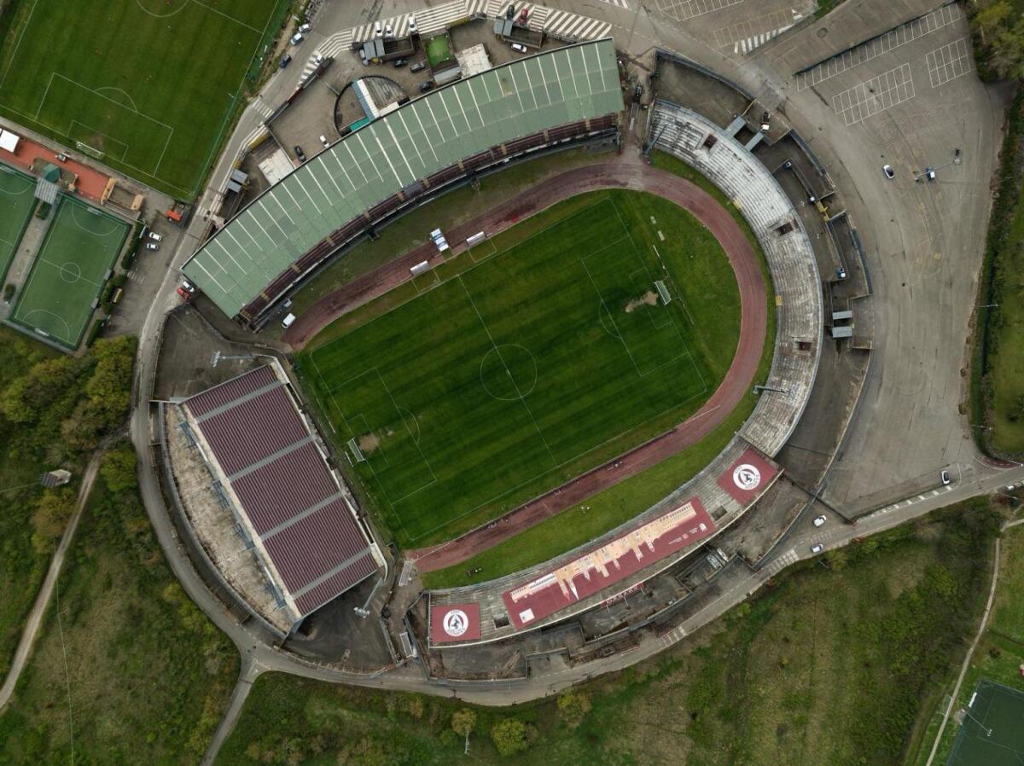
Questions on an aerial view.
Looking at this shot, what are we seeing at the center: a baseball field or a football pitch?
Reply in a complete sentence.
Looking at the center, you will find a football pitch.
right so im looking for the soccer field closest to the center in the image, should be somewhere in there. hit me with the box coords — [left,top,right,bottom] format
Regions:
[304,193,713,547]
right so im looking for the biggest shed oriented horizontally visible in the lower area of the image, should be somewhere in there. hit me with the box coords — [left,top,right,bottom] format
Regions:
[42,469,76,489]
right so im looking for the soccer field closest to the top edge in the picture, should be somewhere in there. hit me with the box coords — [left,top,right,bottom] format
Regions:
[0,0,287,203]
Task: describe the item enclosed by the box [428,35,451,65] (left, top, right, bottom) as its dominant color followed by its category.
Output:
green sports court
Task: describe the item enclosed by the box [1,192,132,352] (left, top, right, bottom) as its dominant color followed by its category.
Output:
green soccer field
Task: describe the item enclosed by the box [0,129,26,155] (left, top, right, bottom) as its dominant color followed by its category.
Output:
white tent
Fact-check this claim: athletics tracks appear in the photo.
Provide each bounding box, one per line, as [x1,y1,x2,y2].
[281,166,763,572]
